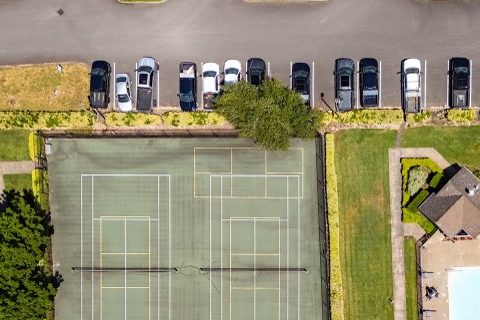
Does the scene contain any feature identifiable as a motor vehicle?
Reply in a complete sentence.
Yes, there is a motor vehicle in the image.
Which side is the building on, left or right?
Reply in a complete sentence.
You can find the building on the right side of the picture.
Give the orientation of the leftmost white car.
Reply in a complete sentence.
Seen from above, the leftmost white car lies from top to bottom.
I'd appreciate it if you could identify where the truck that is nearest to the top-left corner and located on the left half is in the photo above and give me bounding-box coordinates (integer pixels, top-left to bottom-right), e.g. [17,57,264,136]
[87,61,111,110]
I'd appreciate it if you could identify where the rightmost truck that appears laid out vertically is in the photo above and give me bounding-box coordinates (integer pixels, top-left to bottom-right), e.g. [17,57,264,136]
[450,59,471,110]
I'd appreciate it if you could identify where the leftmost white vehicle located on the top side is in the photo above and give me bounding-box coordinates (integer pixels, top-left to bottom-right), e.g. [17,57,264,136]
[114,73,135,112]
